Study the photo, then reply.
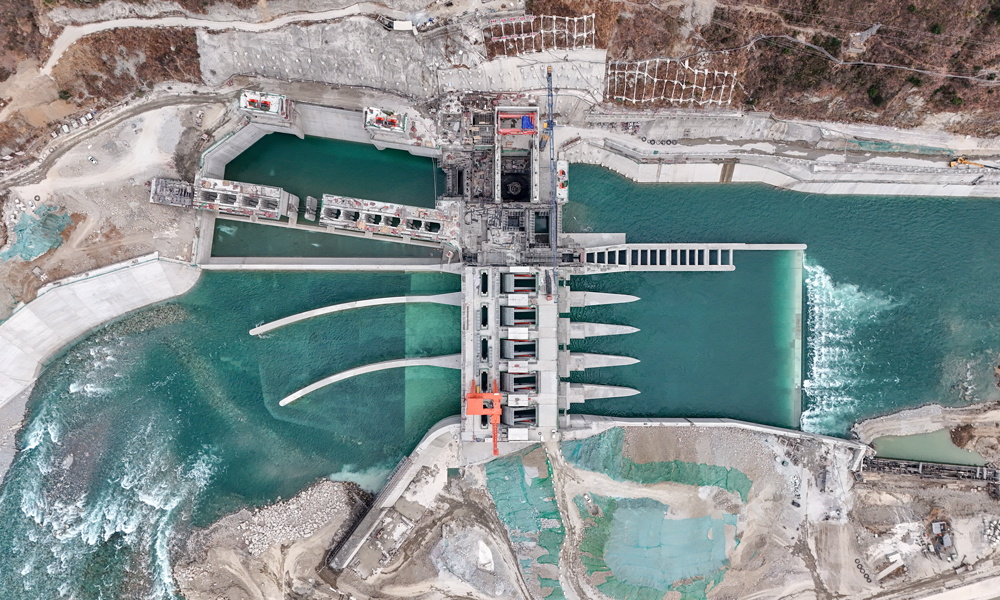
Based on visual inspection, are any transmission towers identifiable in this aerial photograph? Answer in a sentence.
Yes, the picture does show a transmission tower.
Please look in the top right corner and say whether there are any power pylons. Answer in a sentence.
Yes, I can see a power pylon in the top right corner.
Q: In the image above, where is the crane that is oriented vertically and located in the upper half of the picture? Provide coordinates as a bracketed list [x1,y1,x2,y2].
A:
[541,68,558,254]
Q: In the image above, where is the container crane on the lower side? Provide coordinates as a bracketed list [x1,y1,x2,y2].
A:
[466,378,502,456]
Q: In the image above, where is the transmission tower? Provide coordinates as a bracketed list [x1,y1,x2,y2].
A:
[849,16,889,51]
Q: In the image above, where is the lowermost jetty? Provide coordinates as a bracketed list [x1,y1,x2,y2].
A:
[570,382,640,404]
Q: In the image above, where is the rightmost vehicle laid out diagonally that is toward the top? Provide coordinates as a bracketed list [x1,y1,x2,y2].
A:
[195,128,211,145]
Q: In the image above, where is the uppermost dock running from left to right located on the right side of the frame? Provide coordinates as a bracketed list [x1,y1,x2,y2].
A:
[570,290,640,307]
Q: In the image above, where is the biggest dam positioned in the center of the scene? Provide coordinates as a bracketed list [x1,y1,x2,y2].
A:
[461,266,640,442]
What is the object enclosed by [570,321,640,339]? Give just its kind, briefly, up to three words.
pier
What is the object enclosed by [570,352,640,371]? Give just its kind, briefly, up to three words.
pier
